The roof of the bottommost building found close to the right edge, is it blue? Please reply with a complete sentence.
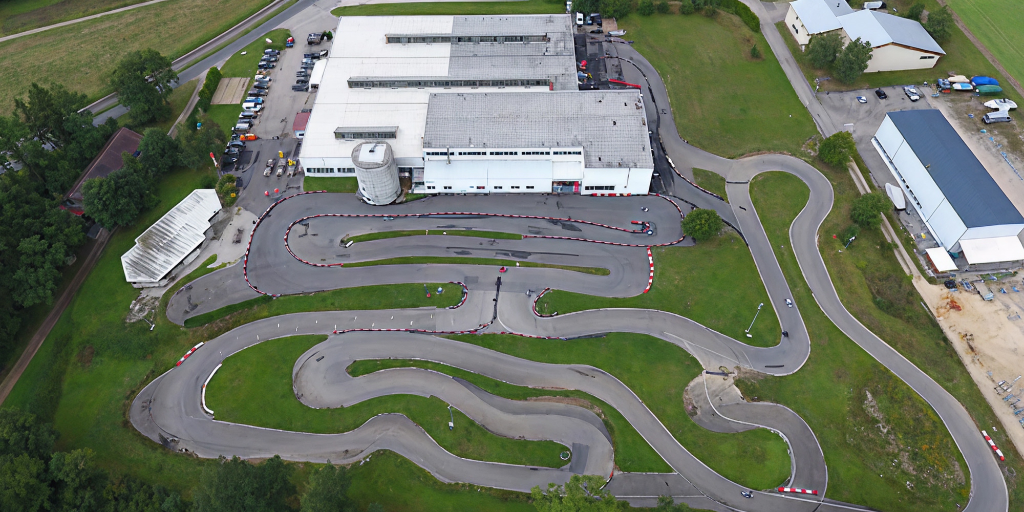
Yes, the roof of the bottommost building found close to the right edge is blue.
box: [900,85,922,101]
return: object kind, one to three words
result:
car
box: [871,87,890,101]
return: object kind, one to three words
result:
car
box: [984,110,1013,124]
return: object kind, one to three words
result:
vehicle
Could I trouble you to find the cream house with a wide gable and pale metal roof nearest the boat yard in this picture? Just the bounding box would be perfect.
[838,9,946,67]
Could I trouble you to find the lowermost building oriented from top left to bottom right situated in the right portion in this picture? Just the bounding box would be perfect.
[875,107,1024,250]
